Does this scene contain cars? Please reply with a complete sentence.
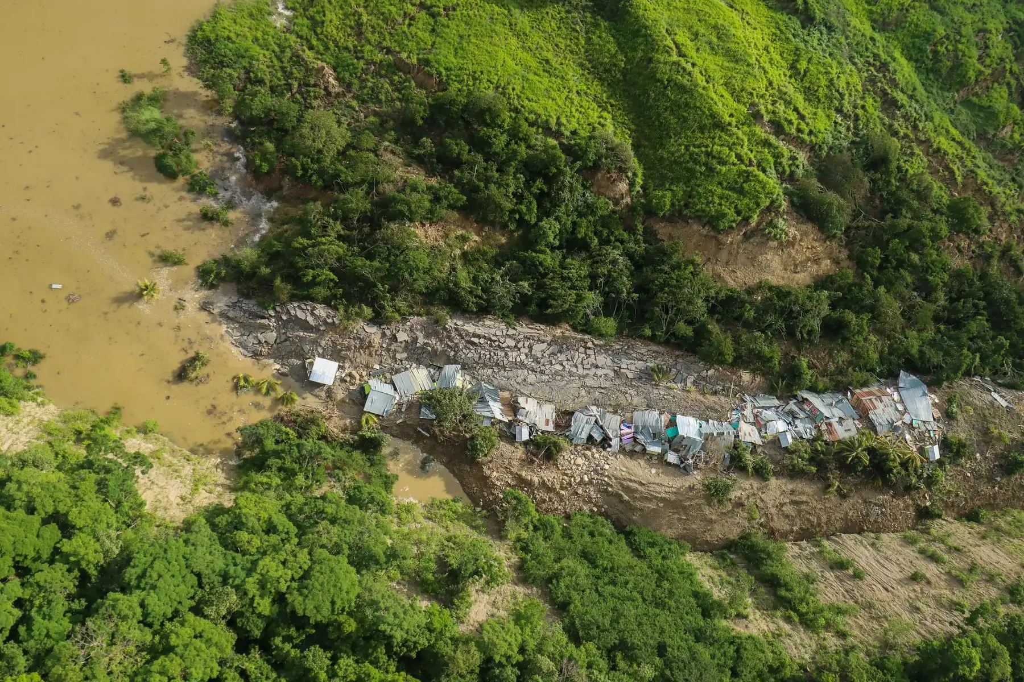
No, no car is visible in the view.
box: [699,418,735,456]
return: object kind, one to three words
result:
house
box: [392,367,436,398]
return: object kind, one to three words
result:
house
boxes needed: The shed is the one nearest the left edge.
[305,357,338,388]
